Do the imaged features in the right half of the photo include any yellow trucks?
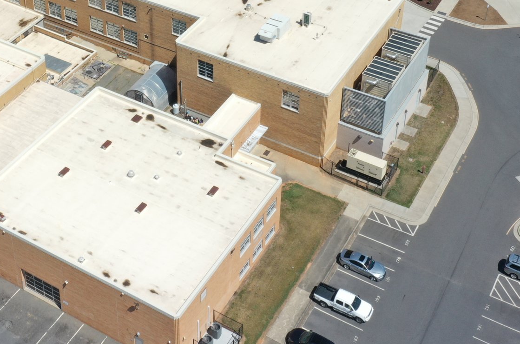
No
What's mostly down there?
buildings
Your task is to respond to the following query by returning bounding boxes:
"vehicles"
[308,283,374,328]
[285,326,338,344]
[336,250,388,285]
[504,257,520,285]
